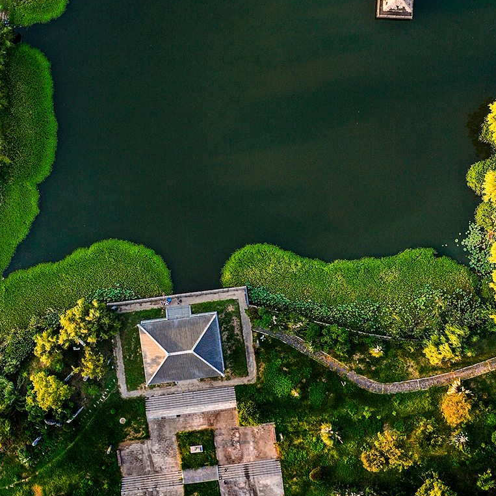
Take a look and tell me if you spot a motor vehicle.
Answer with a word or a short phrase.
No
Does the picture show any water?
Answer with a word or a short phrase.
Yes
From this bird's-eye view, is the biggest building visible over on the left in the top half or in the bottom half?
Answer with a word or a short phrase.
bottom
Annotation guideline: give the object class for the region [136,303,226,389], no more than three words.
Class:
building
